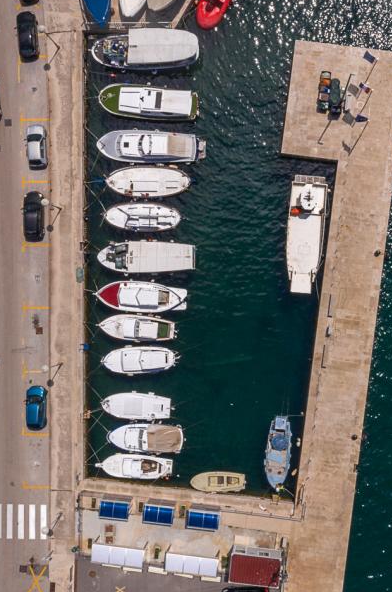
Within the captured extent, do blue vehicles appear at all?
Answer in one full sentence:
Yes, I can see a blue vehicle in this picture.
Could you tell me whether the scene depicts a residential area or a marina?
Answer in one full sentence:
The picture captures a marina.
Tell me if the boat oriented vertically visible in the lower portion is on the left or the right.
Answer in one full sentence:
The boat oriented vertically visible in the lower portion sits on the right side.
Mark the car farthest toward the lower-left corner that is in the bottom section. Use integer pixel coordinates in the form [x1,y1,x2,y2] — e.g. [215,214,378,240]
[23,386,48,430]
